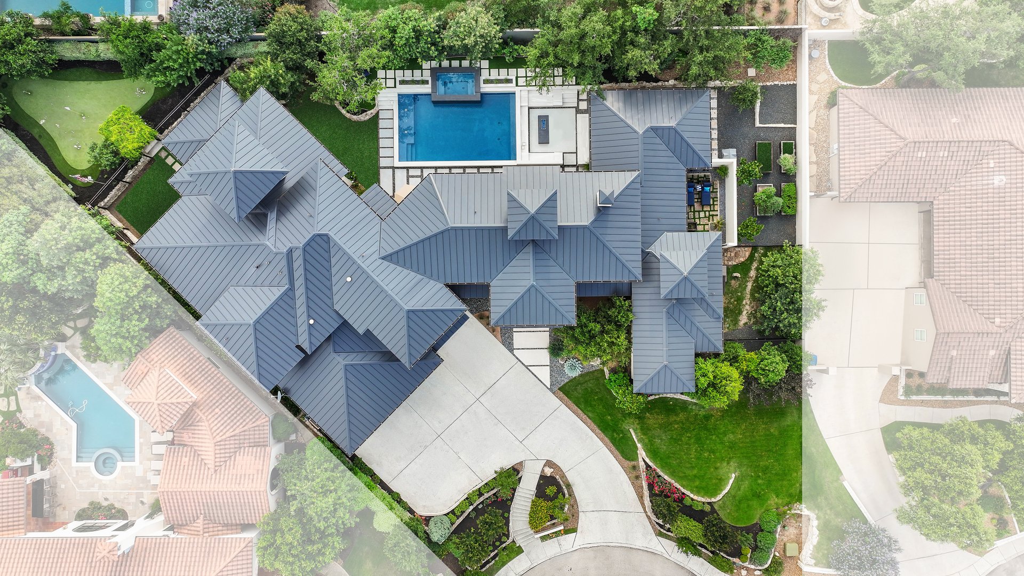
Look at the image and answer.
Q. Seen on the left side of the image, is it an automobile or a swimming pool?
swimming pool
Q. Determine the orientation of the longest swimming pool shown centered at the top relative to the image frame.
from side to side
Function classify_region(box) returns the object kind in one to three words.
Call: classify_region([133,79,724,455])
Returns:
house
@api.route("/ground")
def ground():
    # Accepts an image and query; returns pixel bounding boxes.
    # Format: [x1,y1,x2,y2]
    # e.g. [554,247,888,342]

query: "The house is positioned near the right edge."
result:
[823,86,1024,405]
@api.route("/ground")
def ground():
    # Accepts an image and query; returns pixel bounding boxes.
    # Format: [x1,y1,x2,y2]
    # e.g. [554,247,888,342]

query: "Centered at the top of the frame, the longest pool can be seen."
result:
[393,90,563,165]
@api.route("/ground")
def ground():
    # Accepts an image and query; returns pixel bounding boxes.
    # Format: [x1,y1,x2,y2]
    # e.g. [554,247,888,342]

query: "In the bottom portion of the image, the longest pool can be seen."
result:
[32,343,140,466]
